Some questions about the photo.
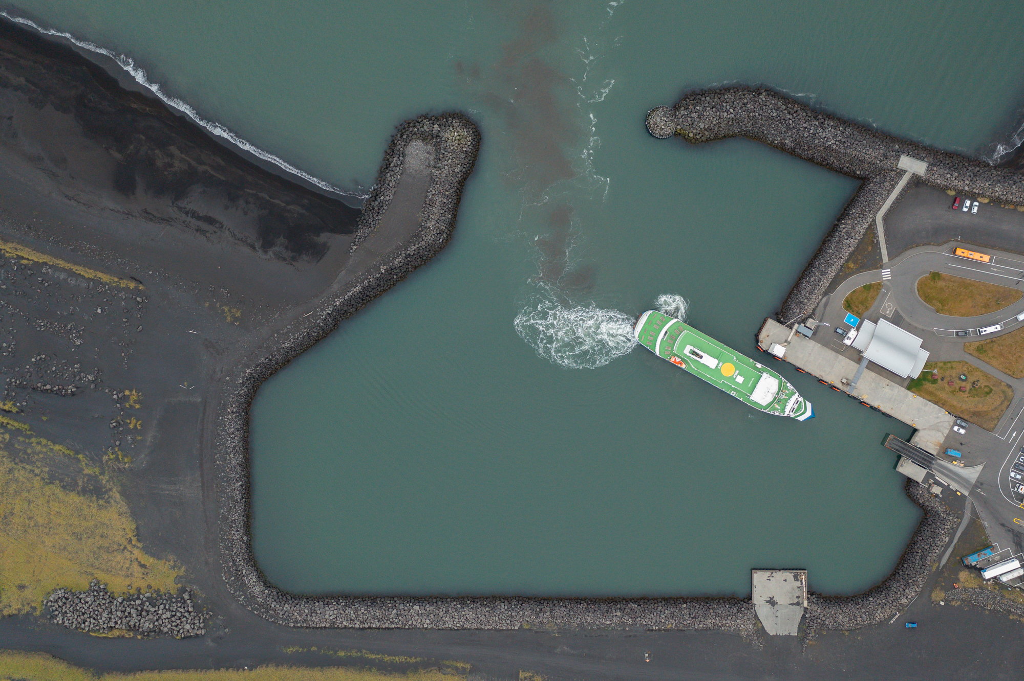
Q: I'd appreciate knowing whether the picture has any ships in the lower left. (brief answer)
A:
No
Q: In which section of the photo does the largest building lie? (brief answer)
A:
right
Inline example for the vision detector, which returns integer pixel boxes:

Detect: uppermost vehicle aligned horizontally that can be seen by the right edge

[952,246,991,262]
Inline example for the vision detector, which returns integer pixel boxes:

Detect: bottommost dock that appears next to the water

[749,567,809,637]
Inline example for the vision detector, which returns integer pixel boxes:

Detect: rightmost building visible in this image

[849,318,930,379]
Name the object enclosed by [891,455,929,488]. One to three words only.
pier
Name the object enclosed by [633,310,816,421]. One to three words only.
ship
